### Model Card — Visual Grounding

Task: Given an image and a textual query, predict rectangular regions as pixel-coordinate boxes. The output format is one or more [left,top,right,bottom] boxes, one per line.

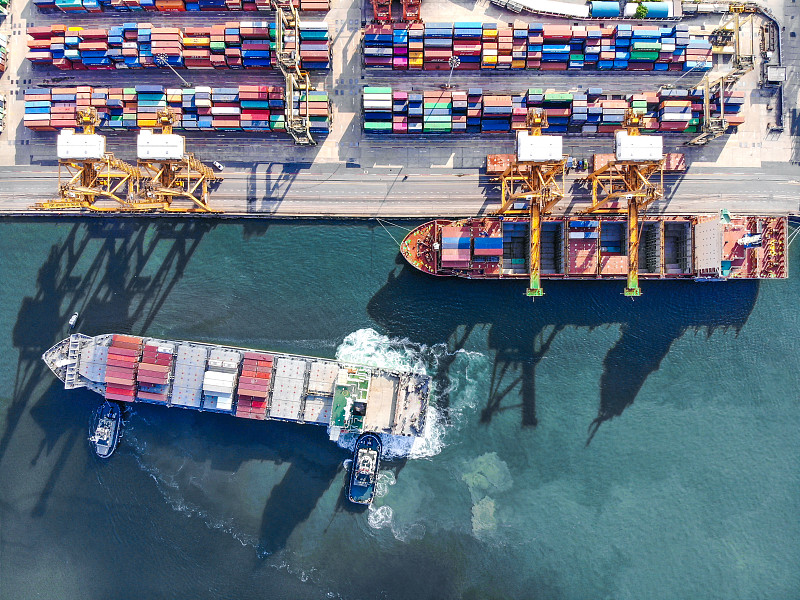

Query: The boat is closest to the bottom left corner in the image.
[89,400,123,461]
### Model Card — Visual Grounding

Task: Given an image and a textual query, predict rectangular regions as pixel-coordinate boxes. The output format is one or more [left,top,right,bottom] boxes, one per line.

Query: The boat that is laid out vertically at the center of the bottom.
[347,433,383,505]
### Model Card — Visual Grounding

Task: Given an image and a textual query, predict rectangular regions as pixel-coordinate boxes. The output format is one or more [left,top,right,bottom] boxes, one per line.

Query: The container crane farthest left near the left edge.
[24,110,165,212]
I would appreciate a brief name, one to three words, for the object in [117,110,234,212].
container crane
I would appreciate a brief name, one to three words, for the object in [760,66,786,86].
building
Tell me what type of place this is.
port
